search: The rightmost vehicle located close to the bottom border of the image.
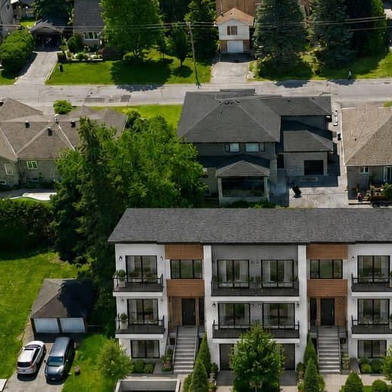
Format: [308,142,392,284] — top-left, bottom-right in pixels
[41,332,76,380]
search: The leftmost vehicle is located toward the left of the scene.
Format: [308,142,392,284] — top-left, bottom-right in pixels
[14,338,49,376]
